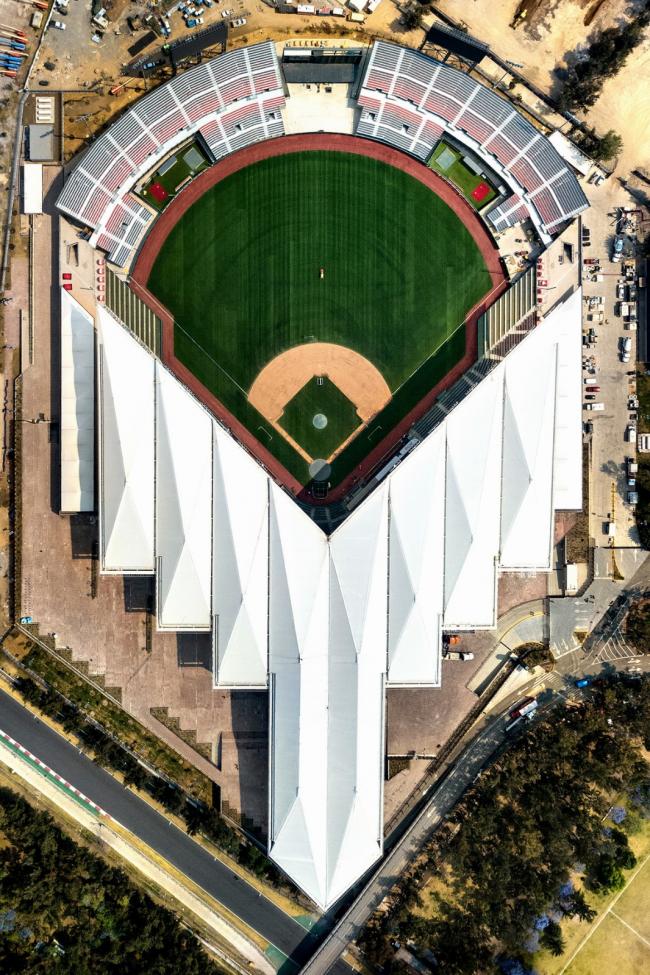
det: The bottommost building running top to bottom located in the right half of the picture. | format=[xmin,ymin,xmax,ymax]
[563,563,577,593]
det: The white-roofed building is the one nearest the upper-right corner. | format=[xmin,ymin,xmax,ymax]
[545,131,592,178]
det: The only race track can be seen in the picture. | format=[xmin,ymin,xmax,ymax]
[0,689,364,975]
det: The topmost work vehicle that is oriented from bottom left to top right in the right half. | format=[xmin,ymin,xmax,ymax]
[515,7,529,28]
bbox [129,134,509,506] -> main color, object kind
green baseball field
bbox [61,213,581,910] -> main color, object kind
white stadium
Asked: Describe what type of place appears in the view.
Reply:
sports ground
